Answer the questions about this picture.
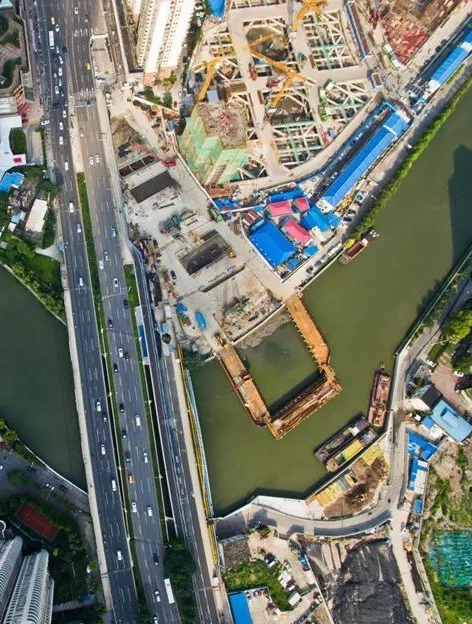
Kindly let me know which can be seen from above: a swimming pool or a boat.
boat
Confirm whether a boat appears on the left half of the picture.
No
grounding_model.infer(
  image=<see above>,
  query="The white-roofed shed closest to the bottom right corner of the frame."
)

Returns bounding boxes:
[405,458,428,491]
